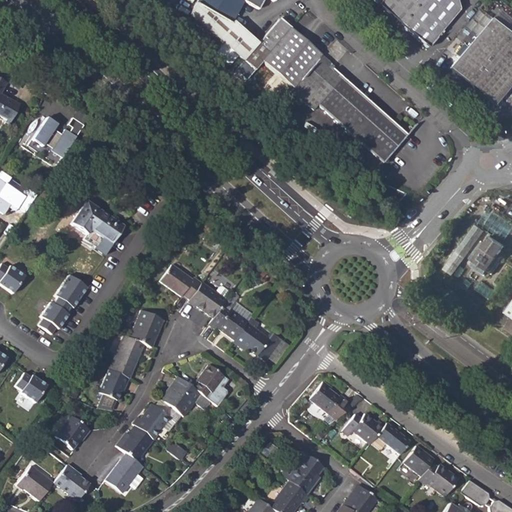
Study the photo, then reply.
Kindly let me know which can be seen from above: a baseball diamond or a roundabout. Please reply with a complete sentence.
It is a roundabout that can be seen here.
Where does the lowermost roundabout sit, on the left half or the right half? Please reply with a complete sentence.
The lowermost roundabout is on the right side of the image.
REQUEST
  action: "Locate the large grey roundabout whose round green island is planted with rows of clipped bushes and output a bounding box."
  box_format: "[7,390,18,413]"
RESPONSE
[309,234,400,325]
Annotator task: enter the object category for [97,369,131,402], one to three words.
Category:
house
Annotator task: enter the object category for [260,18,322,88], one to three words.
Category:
building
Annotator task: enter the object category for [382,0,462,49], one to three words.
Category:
building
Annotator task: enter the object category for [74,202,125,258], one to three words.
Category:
house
